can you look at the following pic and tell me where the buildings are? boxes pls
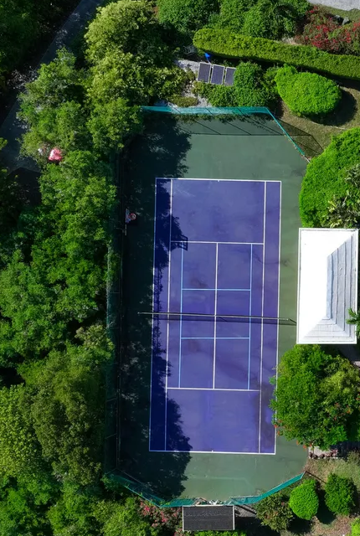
[295,227,360,345]
[181,499,240,532]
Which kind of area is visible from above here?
sports ground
